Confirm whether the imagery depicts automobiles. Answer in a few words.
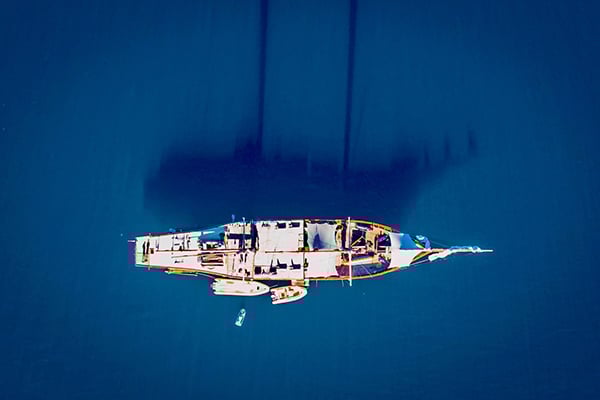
No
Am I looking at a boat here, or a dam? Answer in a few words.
boat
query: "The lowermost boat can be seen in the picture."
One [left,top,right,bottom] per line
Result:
[233,309,246,327]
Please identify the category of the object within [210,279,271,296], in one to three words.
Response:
boat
